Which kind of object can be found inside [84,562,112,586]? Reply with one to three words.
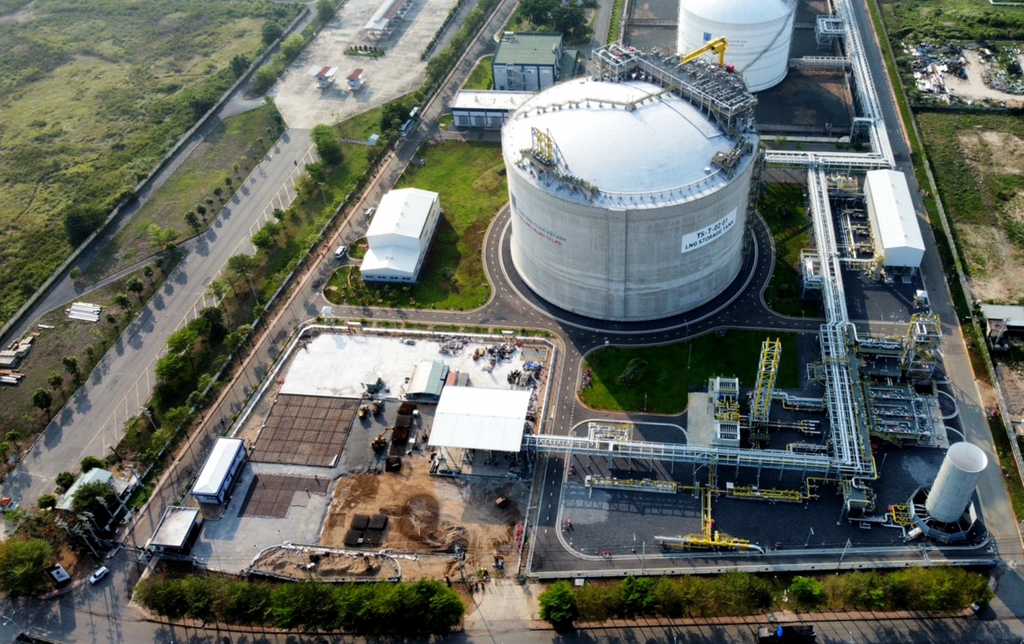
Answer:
car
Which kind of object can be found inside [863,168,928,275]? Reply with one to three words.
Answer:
shed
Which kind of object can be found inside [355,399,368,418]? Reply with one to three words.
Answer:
vehicle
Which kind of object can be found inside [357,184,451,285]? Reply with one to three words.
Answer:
building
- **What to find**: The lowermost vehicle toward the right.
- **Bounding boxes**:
[761,622,811,643]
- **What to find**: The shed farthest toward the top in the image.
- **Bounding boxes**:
[357,0,426,45]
